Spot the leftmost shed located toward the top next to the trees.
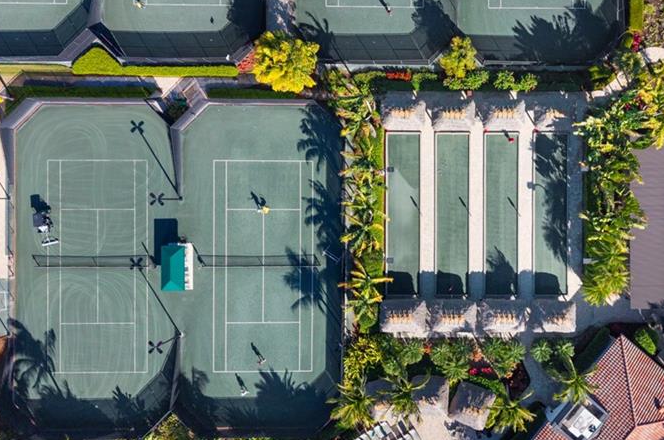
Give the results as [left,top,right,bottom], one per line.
[381,94,429,137]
